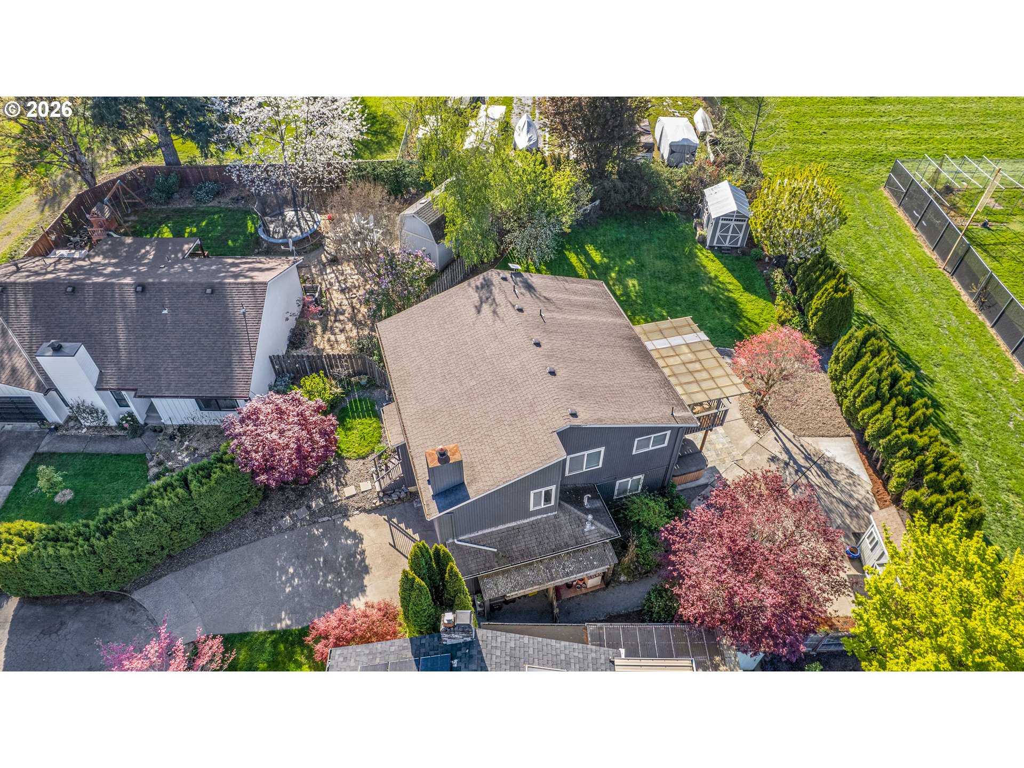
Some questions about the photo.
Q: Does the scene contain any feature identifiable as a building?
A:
Yes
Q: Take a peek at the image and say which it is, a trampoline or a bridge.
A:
trampoline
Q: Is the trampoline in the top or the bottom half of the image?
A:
top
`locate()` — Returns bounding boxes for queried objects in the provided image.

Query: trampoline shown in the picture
[254,186,323,252]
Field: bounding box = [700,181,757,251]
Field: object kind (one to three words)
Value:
shed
